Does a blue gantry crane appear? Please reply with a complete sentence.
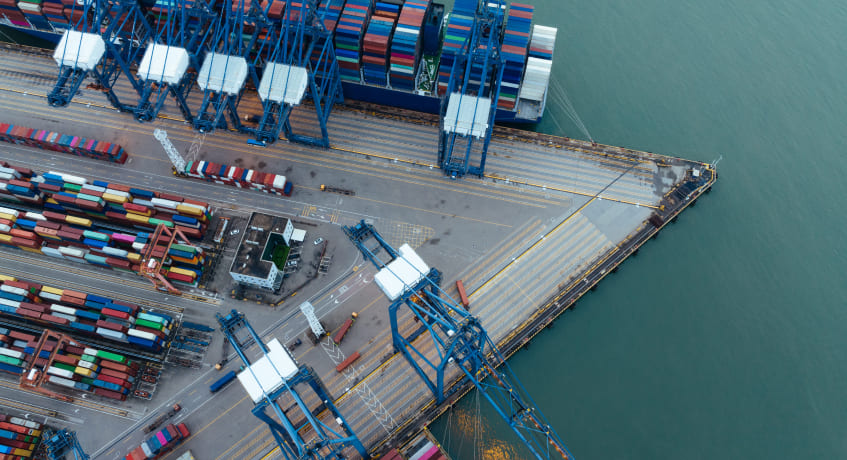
Yes, there's a blue gantry crane down there.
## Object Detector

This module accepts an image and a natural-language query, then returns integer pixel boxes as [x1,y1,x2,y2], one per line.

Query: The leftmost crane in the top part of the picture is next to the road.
[42,0,148,112]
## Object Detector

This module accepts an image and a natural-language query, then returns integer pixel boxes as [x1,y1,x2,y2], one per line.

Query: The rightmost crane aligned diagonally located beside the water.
[337,210,583,460]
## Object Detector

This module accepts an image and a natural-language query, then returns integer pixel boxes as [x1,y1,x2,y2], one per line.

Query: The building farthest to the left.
[229,211,294,294]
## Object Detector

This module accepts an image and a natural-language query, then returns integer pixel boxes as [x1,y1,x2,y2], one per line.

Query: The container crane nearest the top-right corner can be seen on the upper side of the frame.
[434,0,504,179]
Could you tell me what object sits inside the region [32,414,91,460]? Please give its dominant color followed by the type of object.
blue container crane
